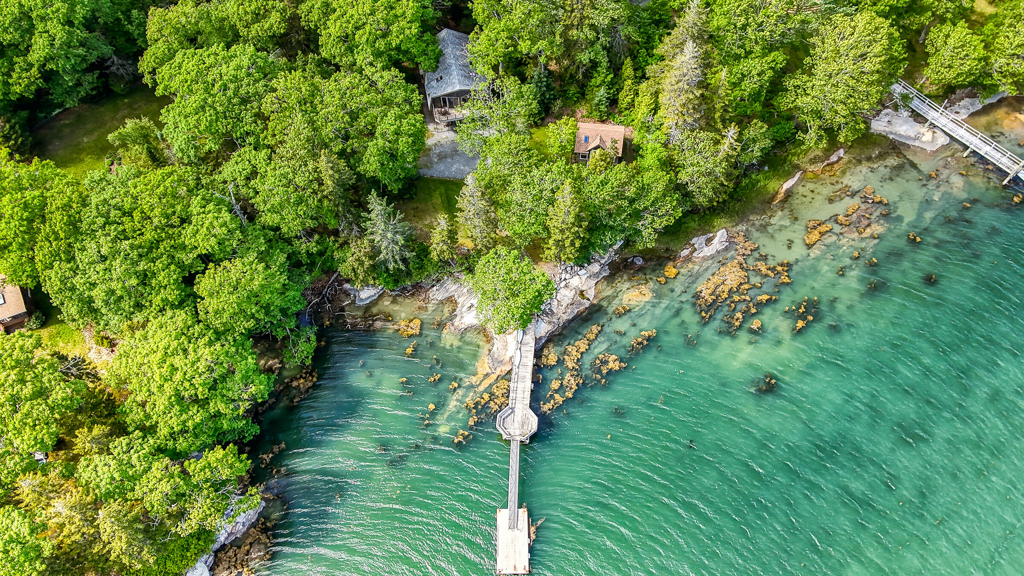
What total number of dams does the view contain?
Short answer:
0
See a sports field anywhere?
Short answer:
No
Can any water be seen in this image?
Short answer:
Yes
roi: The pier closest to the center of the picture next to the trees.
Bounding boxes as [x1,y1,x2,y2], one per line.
[496,298,539,447]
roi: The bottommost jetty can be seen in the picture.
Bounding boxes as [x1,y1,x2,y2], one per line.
[496,508,531,575]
